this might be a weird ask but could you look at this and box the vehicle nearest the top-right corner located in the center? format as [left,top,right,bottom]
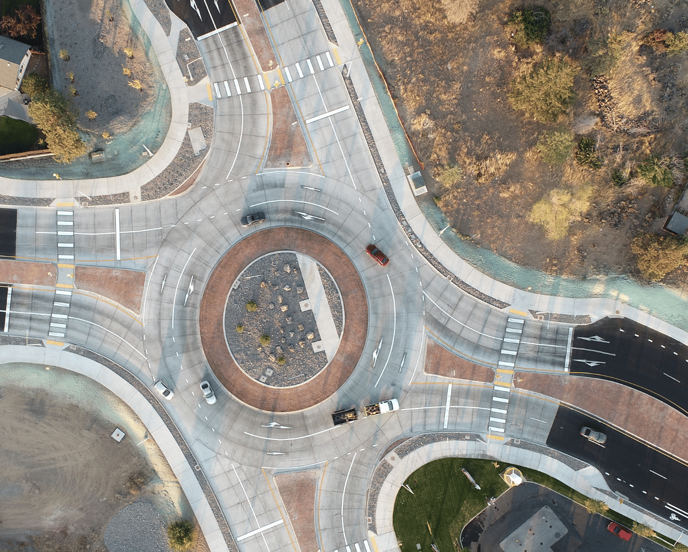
[364,244,390,266]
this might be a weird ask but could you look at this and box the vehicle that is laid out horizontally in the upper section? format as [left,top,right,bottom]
[239,210,266,226]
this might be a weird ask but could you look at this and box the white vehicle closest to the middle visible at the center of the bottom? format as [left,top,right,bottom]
[364,399,399,416]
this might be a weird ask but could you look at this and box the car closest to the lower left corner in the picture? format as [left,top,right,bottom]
[152,377,175,402]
